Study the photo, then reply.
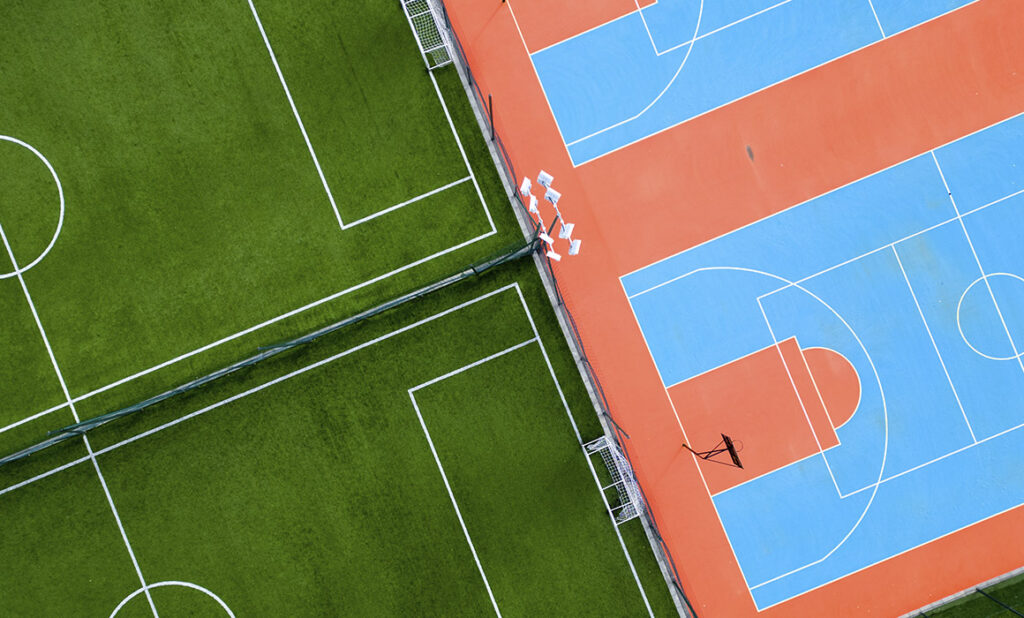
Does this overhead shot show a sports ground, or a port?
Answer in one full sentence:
The area seen from above is a sports ground.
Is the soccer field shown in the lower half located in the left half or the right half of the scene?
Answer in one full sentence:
It is on the left.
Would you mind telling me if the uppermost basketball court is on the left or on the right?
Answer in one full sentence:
The uppermost basketball court is on the right side of the image.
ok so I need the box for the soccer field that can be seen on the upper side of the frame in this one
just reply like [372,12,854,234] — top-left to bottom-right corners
[0,0,528,460]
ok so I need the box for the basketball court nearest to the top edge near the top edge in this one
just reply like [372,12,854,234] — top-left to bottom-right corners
[505,0,981,168]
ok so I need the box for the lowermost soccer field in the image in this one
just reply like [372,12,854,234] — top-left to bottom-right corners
[0,253,681,618]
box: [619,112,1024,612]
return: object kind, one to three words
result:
basketball court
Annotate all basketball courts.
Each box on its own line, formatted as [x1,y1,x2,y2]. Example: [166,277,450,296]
[619,112,1024,612]
[505,0,981,168]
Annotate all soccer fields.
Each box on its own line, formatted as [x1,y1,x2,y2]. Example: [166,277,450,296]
[0,0,528,460]
[0,253,681,618]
